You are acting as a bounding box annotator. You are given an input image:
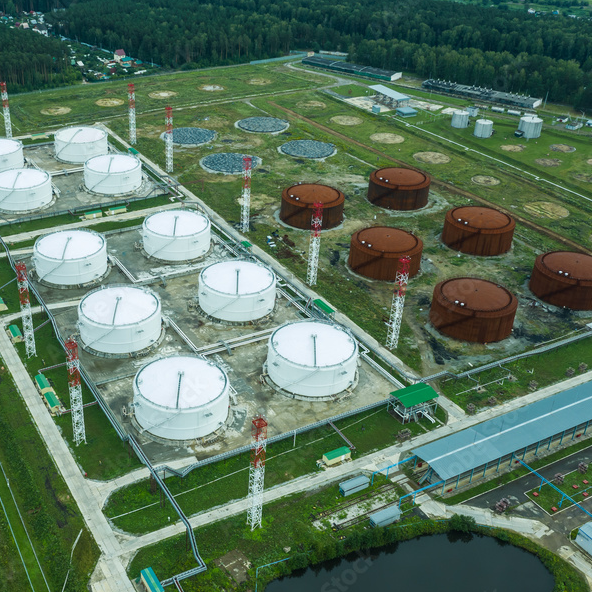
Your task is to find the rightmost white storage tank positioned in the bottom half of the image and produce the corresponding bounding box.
[258,317,363,401]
